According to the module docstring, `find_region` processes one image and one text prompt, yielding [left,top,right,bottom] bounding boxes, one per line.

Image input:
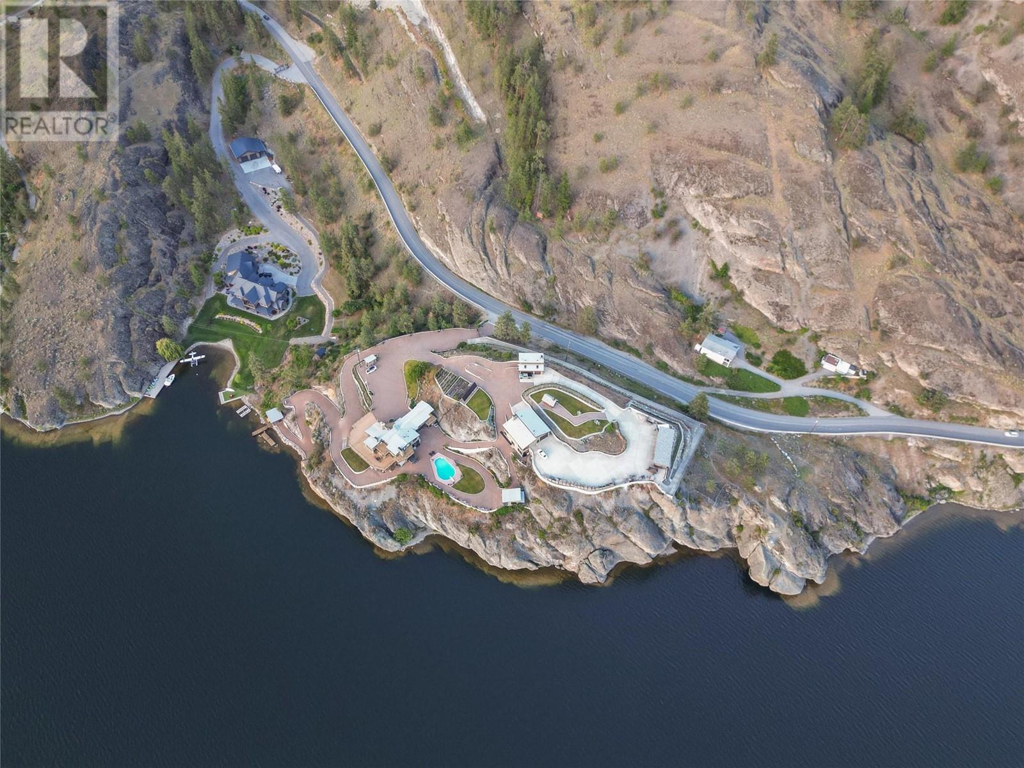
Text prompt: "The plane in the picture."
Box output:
[181,350,205,369]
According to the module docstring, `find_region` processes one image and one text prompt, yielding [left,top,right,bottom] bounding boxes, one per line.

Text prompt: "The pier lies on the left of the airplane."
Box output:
[144,360,182,401]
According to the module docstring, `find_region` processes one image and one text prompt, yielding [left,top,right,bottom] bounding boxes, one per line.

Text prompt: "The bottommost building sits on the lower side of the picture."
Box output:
[502,488,525,507]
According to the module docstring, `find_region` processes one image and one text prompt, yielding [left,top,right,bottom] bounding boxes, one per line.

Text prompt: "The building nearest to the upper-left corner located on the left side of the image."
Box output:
[229,138,271,164]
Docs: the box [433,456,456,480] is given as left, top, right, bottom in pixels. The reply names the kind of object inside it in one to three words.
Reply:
swimming pool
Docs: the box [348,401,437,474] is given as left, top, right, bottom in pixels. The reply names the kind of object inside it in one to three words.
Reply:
house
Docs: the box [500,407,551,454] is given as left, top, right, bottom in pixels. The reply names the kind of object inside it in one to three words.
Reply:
building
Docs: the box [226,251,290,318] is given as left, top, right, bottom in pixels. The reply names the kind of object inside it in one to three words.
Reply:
house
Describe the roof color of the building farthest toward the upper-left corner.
blue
